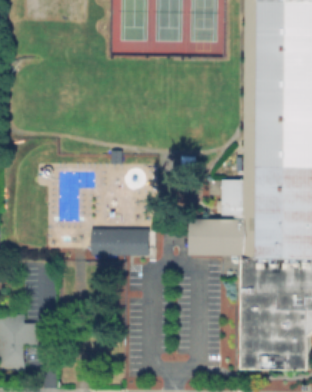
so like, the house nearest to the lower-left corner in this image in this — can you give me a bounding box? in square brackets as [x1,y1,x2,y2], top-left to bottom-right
[0,320,37,370]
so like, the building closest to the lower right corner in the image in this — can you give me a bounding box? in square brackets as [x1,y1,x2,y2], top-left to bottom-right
[242,260,312,370]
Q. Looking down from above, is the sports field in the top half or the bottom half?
top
